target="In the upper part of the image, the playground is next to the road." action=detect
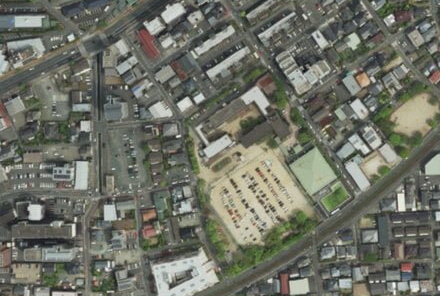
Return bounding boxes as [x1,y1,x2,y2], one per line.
[392,93,438,134]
